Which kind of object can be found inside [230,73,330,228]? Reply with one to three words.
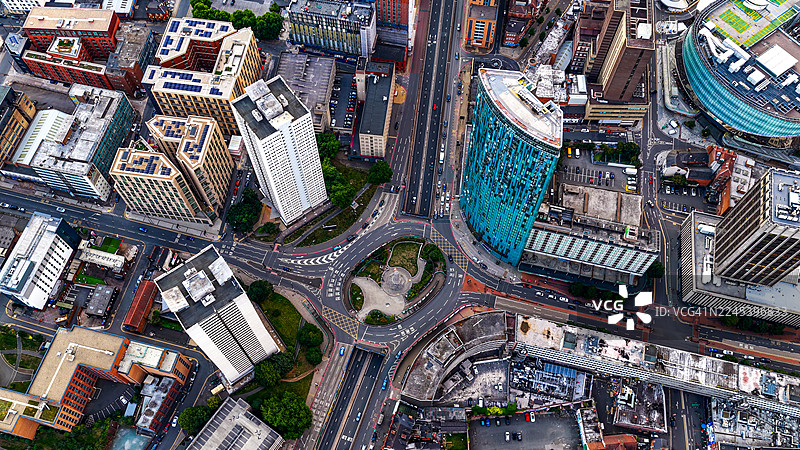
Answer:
building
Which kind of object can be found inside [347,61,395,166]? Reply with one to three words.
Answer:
building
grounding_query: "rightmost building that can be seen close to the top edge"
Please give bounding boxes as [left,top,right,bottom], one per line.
[677,0,800,144]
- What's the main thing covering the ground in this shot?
buildings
